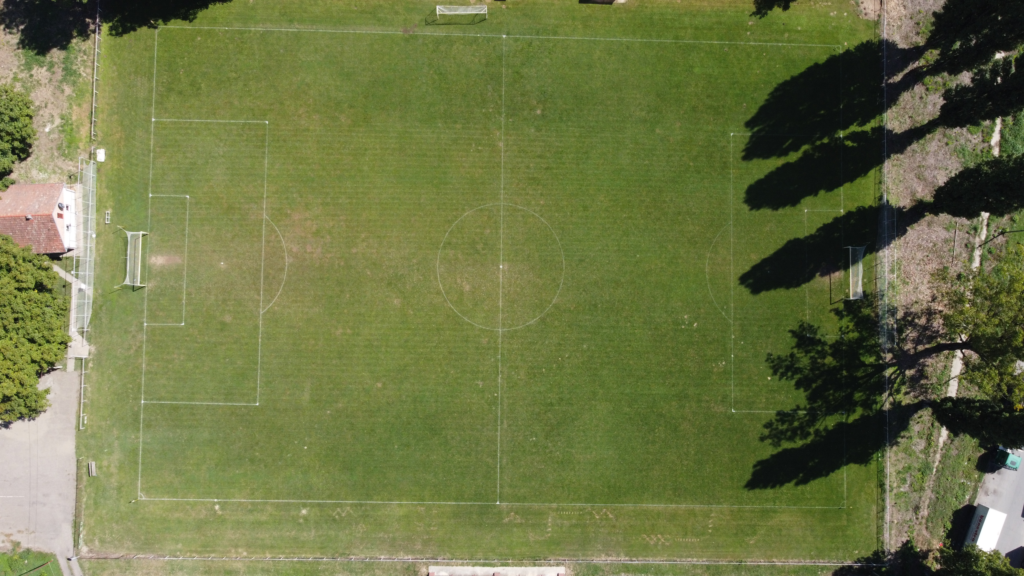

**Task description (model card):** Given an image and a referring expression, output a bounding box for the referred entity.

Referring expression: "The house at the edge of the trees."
[0,183,76,255]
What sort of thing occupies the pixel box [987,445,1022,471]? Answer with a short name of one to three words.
truck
